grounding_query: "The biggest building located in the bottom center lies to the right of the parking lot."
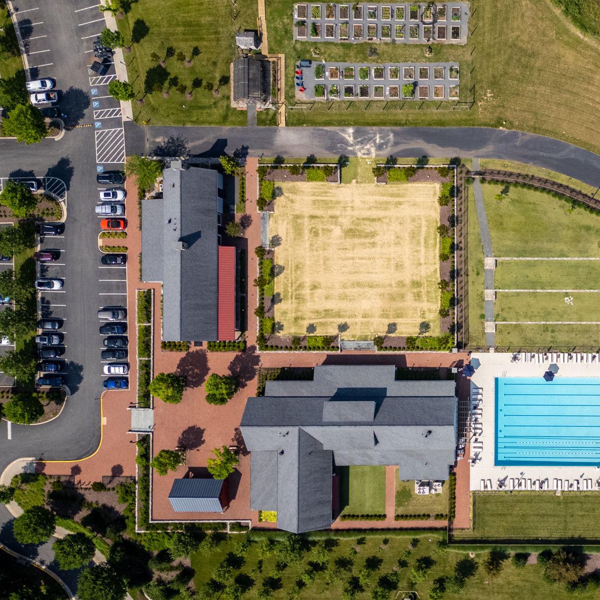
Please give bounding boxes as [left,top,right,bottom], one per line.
[240,366,456,533]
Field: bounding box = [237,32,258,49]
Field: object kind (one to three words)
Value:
shed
